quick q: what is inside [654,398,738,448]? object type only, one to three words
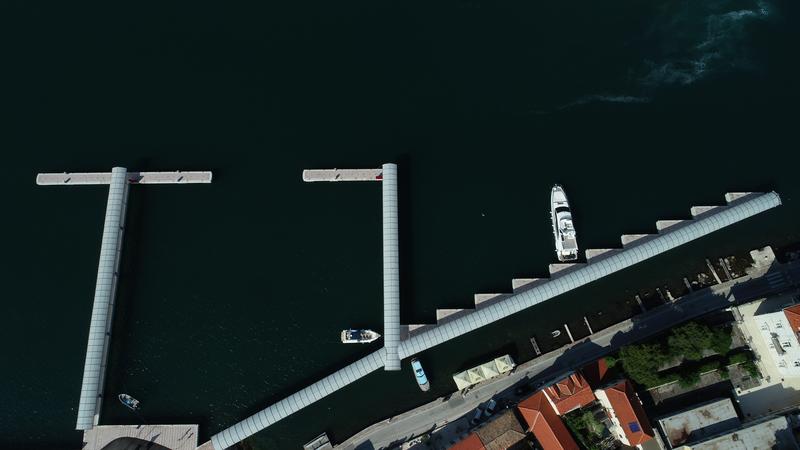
building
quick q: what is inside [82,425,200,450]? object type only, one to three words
pier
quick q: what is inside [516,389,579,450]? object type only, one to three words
house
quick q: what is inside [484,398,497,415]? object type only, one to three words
vehicle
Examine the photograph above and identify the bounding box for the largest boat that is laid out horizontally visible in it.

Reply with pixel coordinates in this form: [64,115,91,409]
[341,328,380,344]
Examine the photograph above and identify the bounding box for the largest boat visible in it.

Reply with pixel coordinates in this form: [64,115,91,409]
[548,181,584,269]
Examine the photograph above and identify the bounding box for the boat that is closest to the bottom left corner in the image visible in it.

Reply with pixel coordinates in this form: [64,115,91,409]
[118,395,139,410]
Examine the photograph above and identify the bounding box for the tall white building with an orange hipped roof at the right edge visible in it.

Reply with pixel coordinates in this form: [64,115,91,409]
[755,303,800,382]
